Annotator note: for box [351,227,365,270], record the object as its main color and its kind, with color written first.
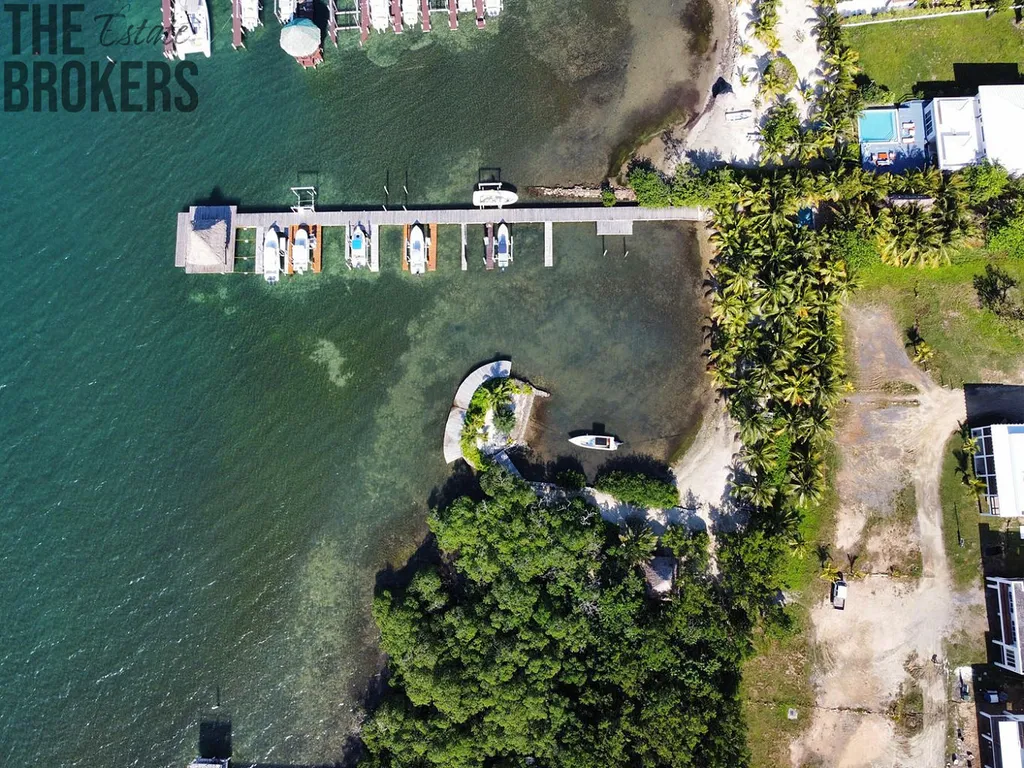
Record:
white boat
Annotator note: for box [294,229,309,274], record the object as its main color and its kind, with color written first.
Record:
white boat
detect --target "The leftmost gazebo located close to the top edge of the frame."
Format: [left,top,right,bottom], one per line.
[281,0,325,71]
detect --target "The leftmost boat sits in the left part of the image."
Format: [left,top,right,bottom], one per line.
[174,0,214,63]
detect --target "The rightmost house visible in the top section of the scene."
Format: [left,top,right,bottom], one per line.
[922,83,1024,185]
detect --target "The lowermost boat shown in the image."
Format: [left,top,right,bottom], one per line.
[569,435,621,452]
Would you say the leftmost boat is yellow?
No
